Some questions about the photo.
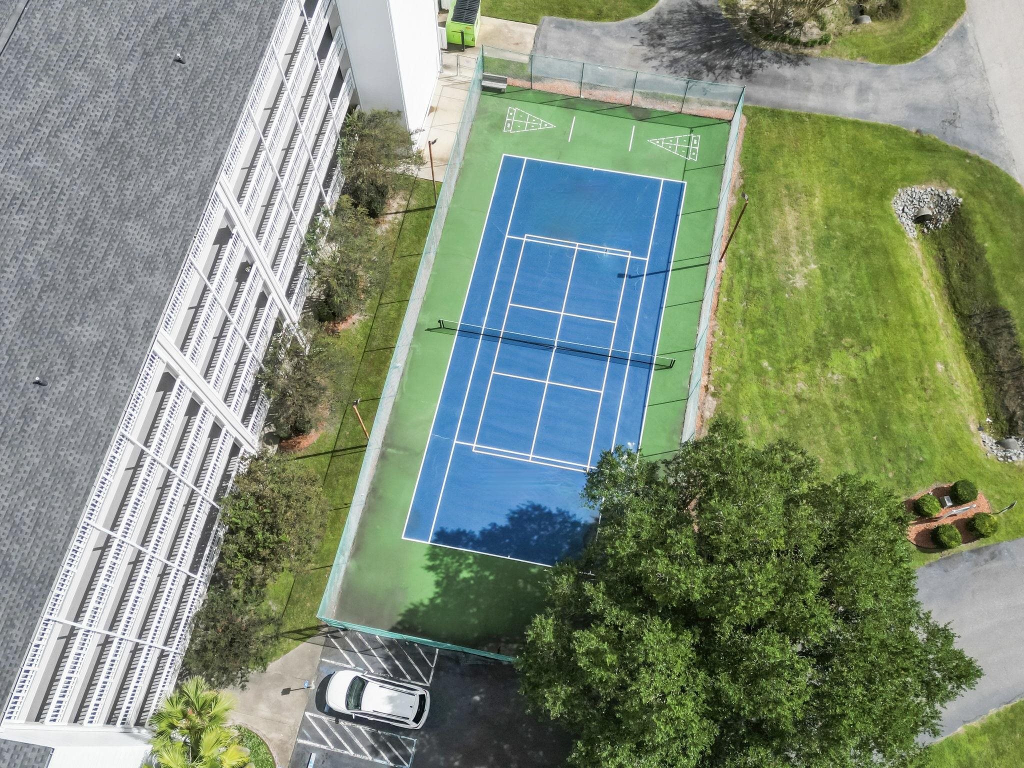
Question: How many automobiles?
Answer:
1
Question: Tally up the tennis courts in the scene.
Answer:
1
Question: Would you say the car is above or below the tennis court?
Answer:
below it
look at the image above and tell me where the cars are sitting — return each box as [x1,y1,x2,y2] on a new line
[324,670,430,730]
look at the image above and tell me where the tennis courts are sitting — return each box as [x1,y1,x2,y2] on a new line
[333,85,732,672]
